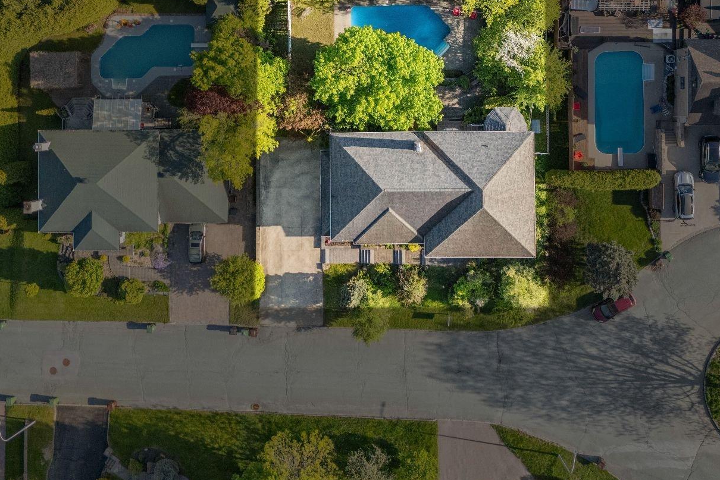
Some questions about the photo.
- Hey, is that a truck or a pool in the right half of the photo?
pool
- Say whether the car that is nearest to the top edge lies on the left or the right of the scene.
right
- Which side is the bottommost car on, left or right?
right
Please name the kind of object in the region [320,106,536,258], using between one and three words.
house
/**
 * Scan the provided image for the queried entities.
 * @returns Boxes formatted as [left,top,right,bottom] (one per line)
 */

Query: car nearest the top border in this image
[695,131,720,185]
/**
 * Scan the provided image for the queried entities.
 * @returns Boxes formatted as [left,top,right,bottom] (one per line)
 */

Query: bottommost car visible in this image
[587,287,640,325]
